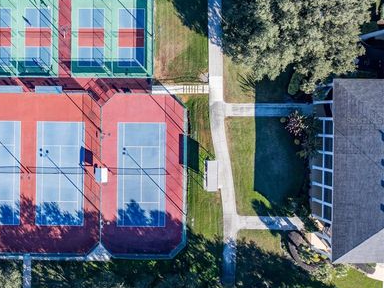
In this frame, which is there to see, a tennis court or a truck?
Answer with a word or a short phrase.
tennis court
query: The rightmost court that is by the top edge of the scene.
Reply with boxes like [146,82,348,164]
[111,0,151,76]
